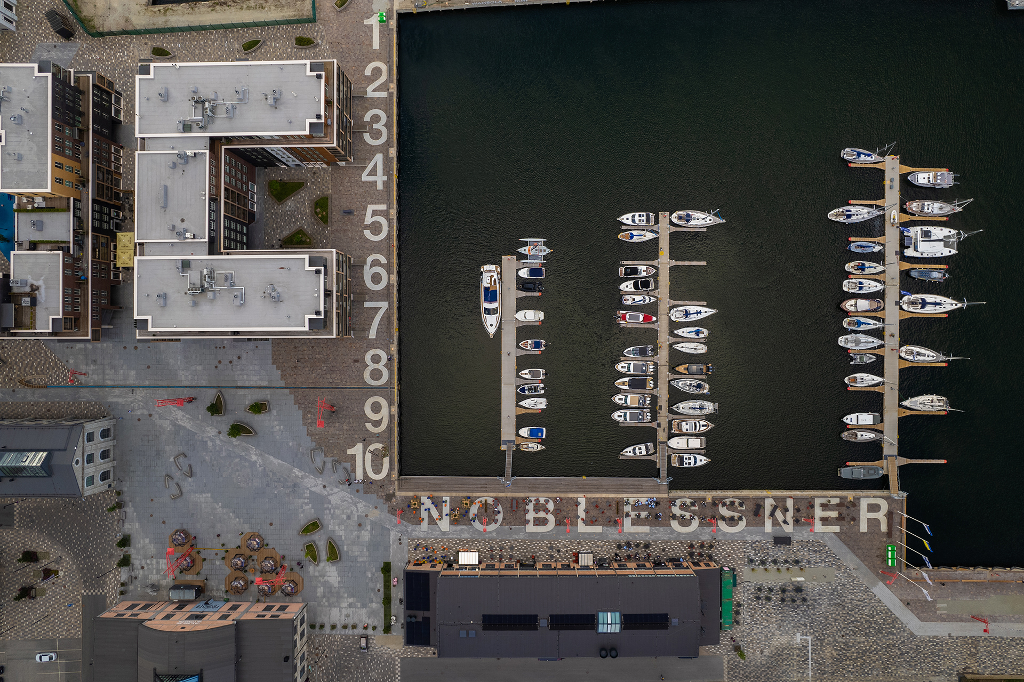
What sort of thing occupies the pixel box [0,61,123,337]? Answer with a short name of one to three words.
building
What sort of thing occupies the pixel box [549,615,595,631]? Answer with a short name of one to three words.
solar panel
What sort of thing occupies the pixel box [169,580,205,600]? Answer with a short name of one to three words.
trailer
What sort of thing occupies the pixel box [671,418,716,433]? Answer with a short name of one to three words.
boat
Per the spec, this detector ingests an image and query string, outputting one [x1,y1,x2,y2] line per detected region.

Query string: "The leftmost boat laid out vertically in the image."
[480,263,502,339]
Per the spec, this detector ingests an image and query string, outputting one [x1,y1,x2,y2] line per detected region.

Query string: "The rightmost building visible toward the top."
[133,58,358,339]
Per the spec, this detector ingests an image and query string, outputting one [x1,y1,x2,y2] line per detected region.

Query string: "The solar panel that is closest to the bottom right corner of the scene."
[622,615,669,631]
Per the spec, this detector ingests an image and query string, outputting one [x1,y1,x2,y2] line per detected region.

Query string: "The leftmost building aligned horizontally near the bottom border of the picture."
[92,593,308,682]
